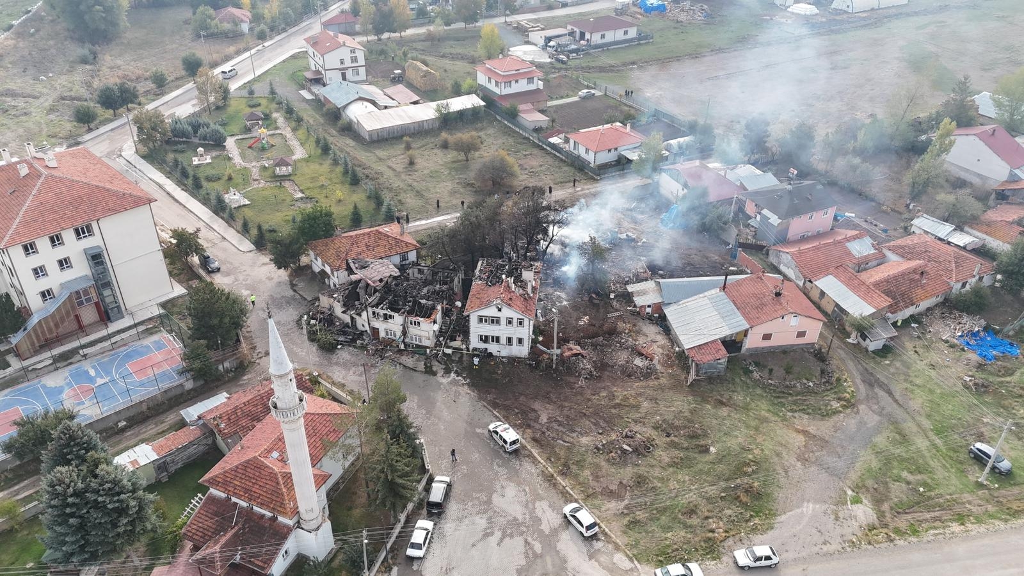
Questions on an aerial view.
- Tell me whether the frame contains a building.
Yes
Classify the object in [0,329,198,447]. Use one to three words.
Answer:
sports court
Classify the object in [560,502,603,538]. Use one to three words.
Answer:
car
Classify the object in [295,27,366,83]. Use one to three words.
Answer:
house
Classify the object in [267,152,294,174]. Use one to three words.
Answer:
gazebo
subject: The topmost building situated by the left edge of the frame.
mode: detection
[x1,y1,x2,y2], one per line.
[0,139,174,359]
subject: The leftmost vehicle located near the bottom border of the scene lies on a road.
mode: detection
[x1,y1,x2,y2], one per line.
[404,516,434,561]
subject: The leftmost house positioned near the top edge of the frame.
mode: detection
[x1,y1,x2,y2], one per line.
[216,8,260,32]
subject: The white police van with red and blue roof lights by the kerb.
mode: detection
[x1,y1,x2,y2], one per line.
[484,417,525,452]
